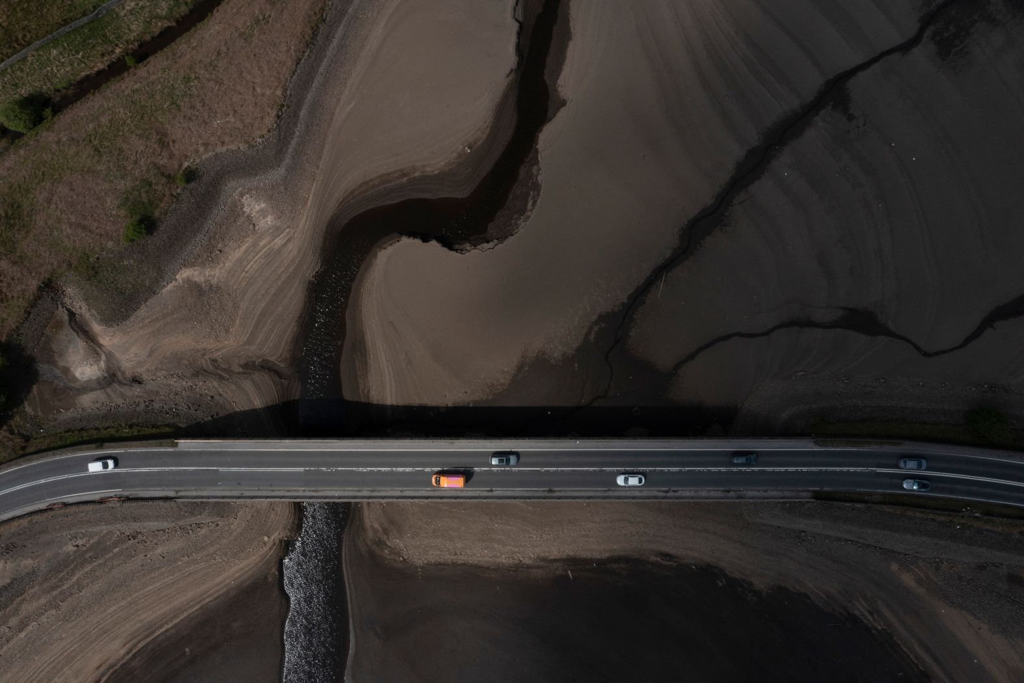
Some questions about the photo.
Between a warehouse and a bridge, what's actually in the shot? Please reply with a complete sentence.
Visible in the photo is a bridge.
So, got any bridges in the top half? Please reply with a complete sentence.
No, no bridge is visible in the top half.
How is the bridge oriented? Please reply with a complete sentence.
Seen from above, the bridge lies horizontally.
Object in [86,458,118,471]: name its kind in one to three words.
vehicle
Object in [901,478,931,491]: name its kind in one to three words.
vehicle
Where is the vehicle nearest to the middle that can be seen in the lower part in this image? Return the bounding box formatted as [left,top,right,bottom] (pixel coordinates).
[490,453,518,466]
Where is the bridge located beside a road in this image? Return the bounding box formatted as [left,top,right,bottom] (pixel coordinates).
[168,434,814,503]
